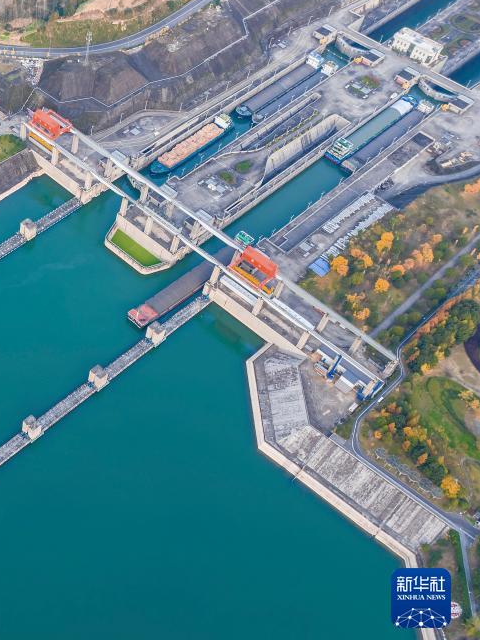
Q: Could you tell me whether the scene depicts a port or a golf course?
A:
port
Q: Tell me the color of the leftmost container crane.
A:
red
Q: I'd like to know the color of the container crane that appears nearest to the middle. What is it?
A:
red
